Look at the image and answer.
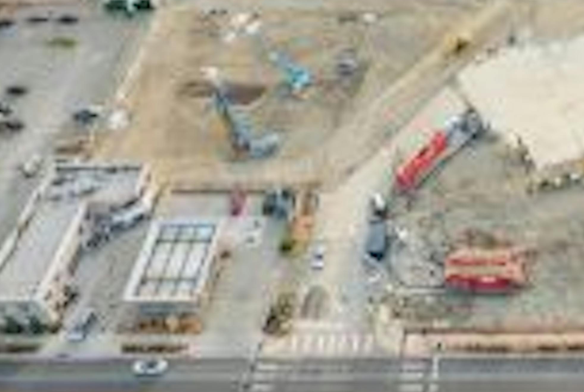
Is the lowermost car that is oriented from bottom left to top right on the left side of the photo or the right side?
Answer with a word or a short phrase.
left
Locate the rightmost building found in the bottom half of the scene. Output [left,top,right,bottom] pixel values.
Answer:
[123,220,228,323]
